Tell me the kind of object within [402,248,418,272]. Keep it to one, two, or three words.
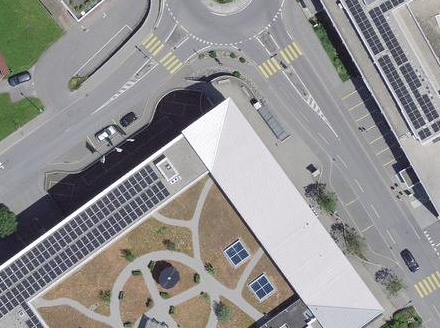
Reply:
car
